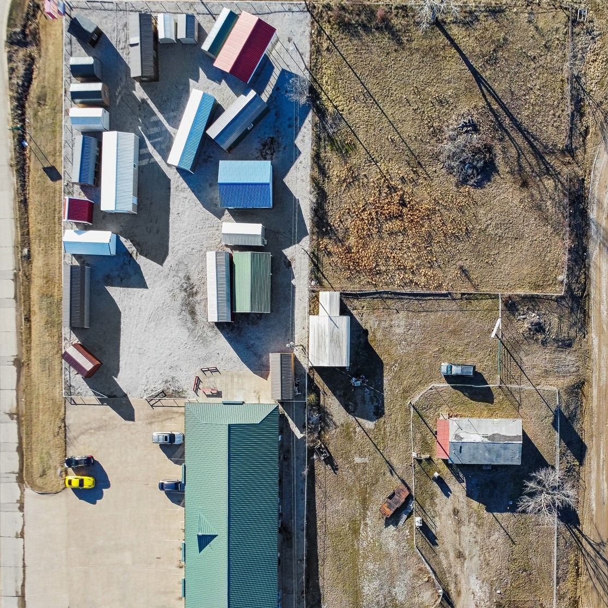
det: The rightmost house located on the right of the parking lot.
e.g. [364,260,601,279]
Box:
[437,419,522,464]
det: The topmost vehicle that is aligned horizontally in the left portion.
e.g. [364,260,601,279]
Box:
[150,431,181,445]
